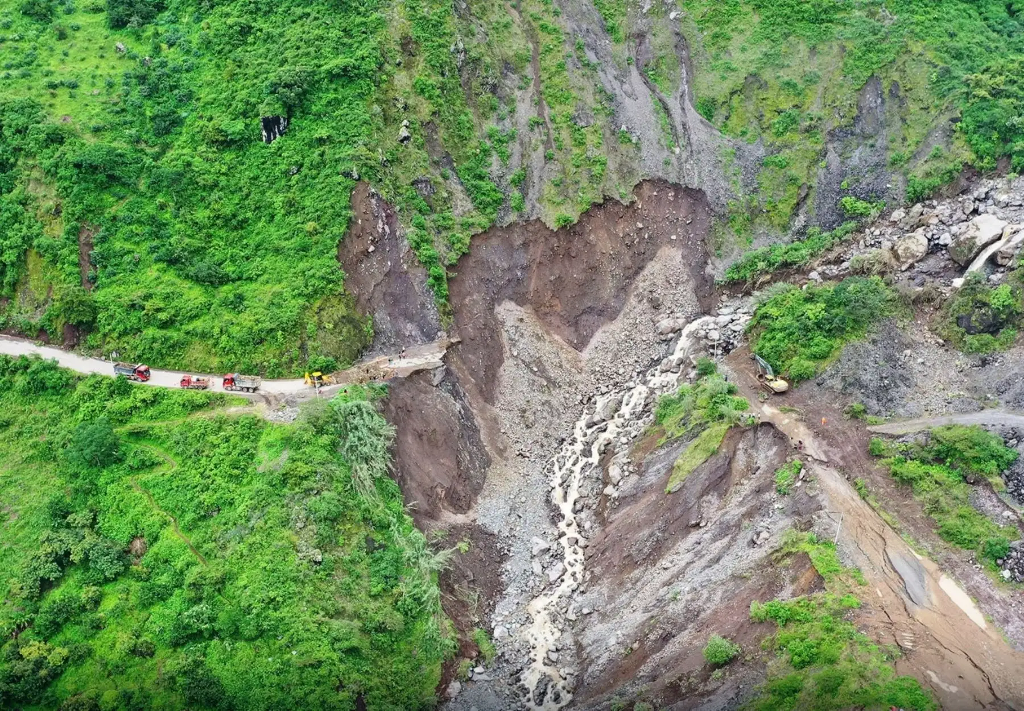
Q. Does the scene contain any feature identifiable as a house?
No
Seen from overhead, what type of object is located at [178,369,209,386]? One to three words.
vehicle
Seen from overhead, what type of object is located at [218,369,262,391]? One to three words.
truck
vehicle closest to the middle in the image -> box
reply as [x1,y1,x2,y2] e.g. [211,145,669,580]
[302,370,338,389]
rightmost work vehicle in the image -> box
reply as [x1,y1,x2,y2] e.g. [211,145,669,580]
[754,350,790,394]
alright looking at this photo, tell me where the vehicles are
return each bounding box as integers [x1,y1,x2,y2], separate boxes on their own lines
[302,370,338,389]
[754,350,790,394]
[109,360,152,381]
[218,369,262,391]
[178,369,209,386]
